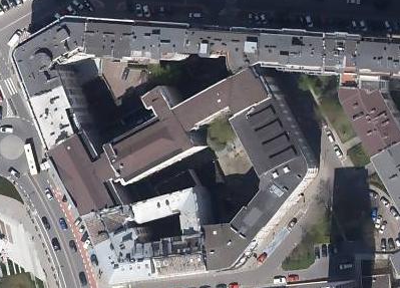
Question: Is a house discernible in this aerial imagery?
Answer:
Yes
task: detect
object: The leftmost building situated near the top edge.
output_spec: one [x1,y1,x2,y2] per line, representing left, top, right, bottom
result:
[12,11,93,97]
